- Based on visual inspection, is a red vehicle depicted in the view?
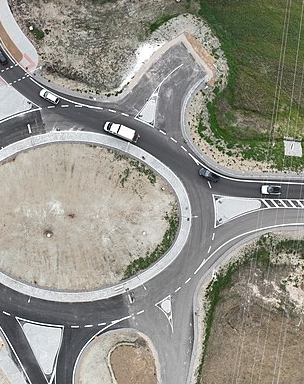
No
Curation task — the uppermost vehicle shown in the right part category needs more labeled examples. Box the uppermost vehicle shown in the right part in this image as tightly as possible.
[198,167,220,181]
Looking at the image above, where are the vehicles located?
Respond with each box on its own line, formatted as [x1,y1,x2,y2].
[260,185,282,194]
[105,121,138,142]
[39,89,60,105]
[198,167,220,181]
[0,49,7,66]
